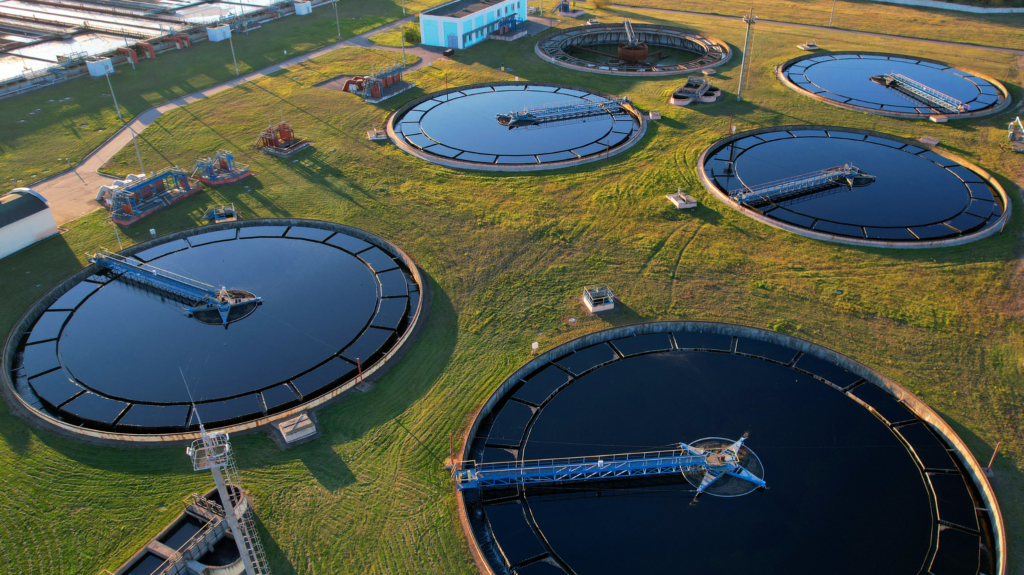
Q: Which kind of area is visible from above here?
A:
industrial area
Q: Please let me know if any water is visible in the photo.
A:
Yes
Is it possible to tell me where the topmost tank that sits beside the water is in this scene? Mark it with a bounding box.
[533,22,734,78]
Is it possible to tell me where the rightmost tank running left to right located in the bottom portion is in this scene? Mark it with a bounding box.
[450,321,1015,575]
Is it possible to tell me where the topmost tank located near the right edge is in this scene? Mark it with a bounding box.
[774,51,1014,121]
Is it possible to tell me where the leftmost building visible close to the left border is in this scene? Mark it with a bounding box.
[0,182,62,262]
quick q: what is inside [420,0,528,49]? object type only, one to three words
building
